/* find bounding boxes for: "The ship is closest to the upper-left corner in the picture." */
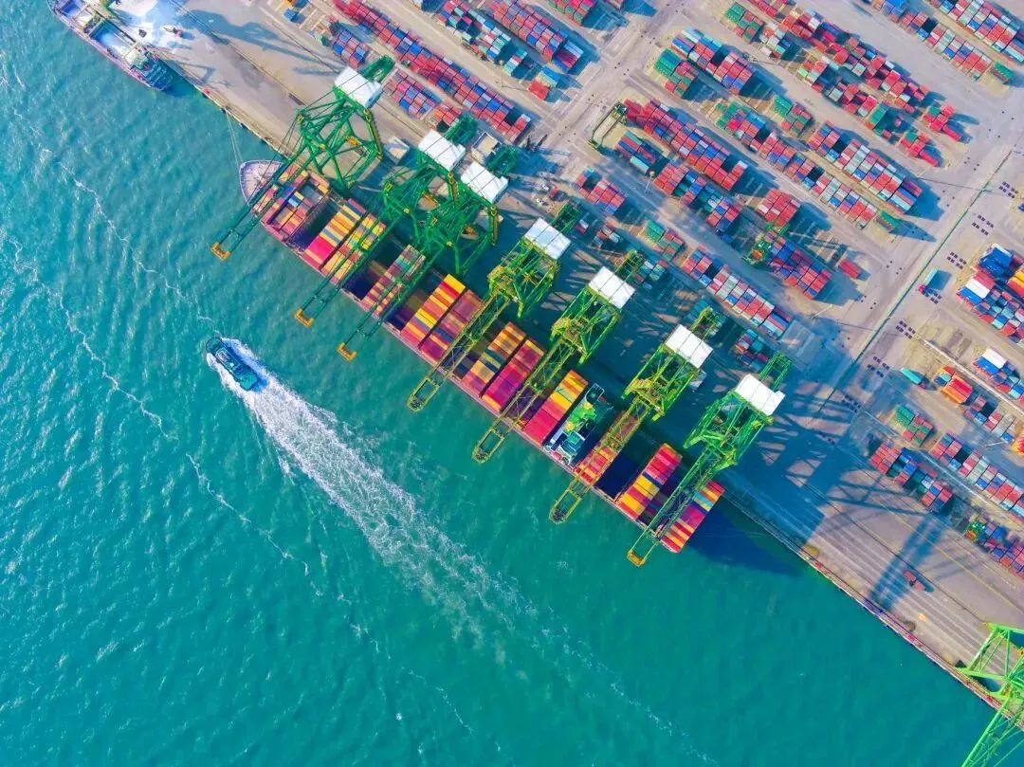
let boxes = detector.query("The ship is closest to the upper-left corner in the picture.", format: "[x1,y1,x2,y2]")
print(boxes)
[27,0,168,95]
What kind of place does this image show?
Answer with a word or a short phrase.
port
